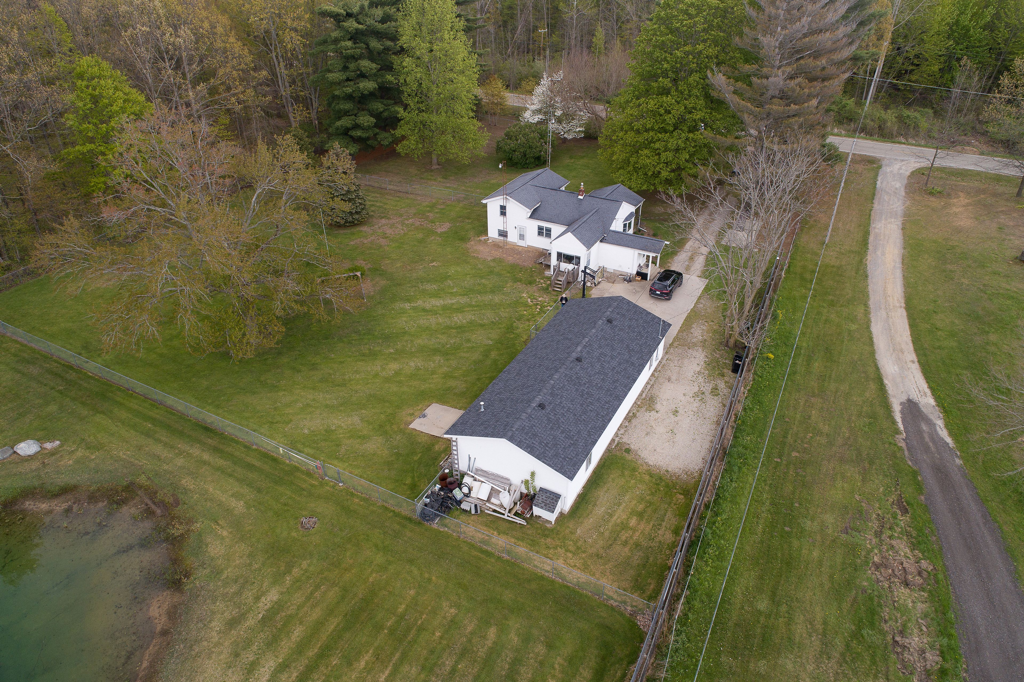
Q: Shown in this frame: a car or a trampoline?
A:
car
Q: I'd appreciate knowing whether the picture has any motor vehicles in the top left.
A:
No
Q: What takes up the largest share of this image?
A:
grass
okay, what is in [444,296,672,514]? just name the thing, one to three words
building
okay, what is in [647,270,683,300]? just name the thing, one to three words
car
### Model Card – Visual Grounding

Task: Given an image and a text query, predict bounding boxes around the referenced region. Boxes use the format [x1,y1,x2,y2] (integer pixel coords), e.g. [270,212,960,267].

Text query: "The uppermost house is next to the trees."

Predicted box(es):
[476,167,672,281]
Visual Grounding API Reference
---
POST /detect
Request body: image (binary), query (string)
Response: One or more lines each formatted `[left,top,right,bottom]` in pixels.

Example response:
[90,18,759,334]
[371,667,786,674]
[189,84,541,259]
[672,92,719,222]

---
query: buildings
[476,167,672,281]
[444,296,672,514]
